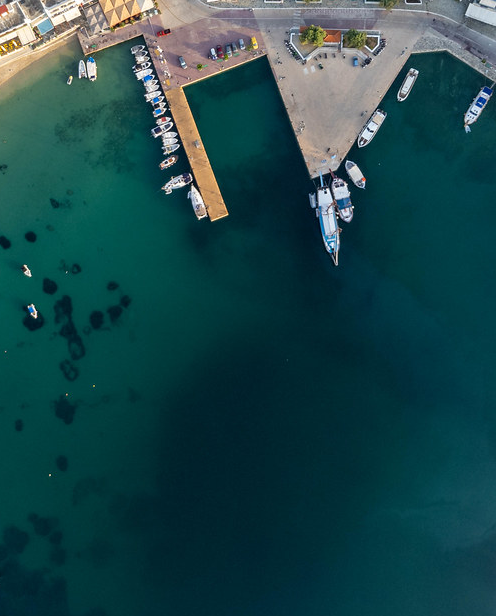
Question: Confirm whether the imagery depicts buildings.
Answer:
Yes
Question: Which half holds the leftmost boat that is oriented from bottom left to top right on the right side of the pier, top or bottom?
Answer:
top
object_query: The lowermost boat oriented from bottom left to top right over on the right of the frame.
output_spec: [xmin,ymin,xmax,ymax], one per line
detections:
[358,109,389,146]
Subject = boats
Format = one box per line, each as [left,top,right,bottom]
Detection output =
[134,57,150,64]
[346,160,365,189]
[192,184,209,221]
[28,302,36,318]
[152,109,166,117]
[134,51,148,59]
[161,138,178,145]
[161,132,177,139]
[152,103,166,110]
[151,124,172,139]
[87,57,97,82]
[310,193,316,210]
[466,79,494,125]
[21,264,30,277]
[134,70,152,80]
[155,118,171,125]
[159,157,177,169]
[329,168,352,222]
[163,170,194,189]
[397,68,419,102]
[141,75,154,83]
[150,97,164,104]
[161,145,179,155]
[358,109,389,146]
[79,59,86,80]
[130,46,145,55]
[133,64,150,72]
[144,92,161,101]
[144,86,159,93]
[143,80,158,88]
